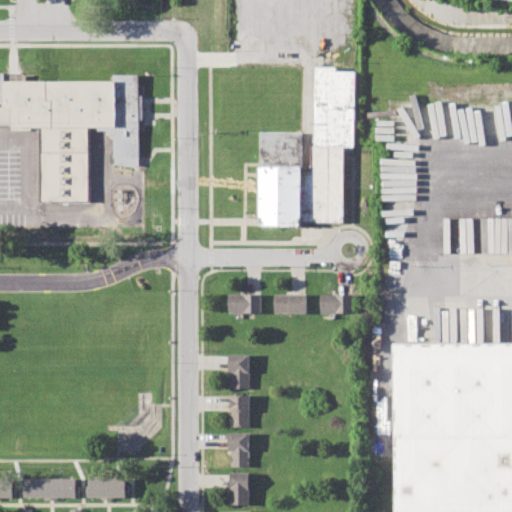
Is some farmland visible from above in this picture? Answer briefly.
No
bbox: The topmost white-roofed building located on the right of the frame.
[313,66,356,148]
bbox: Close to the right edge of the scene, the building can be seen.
[393,344,512,512]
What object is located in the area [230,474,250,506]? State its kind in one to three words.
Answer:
house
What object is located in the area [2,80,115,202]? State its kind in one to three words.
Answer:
building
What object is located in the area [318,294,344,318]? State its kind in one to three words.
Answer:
house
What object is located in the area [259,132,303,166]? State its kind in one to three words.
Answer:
building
